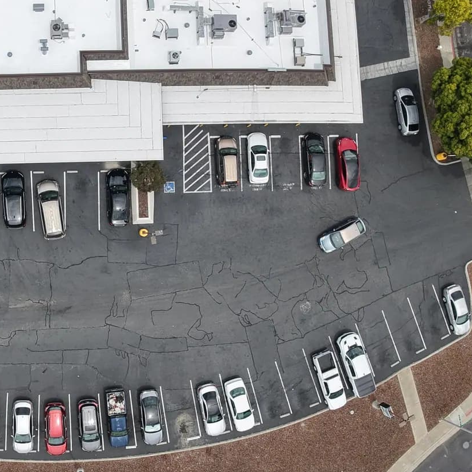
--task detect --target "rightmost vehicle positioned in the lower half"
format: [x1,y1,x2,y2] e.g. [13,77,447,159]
[437,281,472,337]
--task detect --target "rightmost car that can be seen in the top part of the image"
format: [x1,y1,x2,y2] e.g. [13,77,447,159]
[391,87,419,138]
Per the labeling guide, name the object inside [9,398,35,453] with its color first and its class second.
white car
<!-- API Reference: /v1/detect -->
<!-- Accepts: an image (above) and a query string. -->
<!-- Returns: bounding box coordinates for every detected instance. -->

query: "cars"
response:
[300,133,327,188]
[244,133,270,186]
[215,137,241,188]
[77,398,102,453]
[333,137,361,193]
[224,376,254,432]
[315,215,368,254]
[139,388,164,445]
[0,170,26,229]
[36,179,64,241]
[105,169,131,226]
[437,281,472,337]
[9,398,35,453]
[196,380,226,437]
[391,87,419,138]
[43,400,67,455]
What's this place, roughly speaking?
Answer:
parking lot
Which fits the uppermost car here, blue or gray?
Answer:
gray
